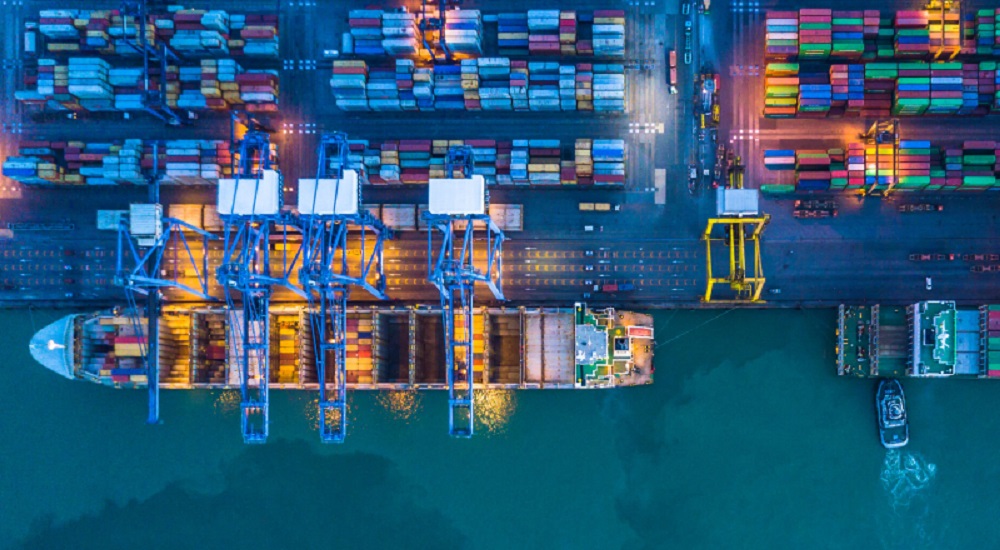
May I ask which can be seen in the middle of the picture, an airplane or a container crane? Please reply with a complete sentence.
The one visible in the middle of the picture is a container crane.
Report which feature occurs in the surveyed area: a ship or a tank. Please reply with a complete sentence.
There is a ship in the scene.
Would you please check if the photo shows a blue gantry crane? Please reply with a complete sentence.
Yes, the frame does contain a blue gantry crane.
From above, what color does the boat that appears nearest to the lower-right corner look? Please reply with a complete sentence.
The color of the boat that appears nearest to the lower-right corner is blue.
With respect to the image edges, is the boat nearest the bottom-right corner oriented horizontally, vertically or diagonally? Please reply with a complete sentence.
I'd say the boat nearest the bottom-right corner is aligned vertically in the picture.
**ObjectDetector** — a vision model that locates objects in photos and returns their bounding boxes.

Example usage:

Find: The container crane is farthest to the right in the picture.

[926,0,965,62]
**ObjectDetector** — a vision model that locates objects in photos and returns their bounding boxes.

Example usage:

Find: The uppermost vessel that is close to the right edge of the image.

[835,301,987,380]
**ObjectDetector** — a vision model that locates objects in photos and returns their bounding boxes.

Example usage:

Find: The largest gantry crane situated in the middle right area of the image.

[696,172,774,309]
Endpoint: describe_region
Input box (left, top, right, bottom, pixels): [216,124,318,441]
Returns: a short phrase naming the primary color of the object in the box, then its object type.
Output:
blue container crane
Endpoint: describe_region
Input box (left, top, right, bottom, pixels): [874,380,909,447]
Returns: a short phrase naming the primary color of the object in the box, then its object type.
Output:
blue boat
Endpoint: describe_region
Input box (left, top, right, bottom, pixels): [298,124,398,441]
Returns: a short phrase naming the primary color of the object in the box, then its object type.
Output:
blue container crane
